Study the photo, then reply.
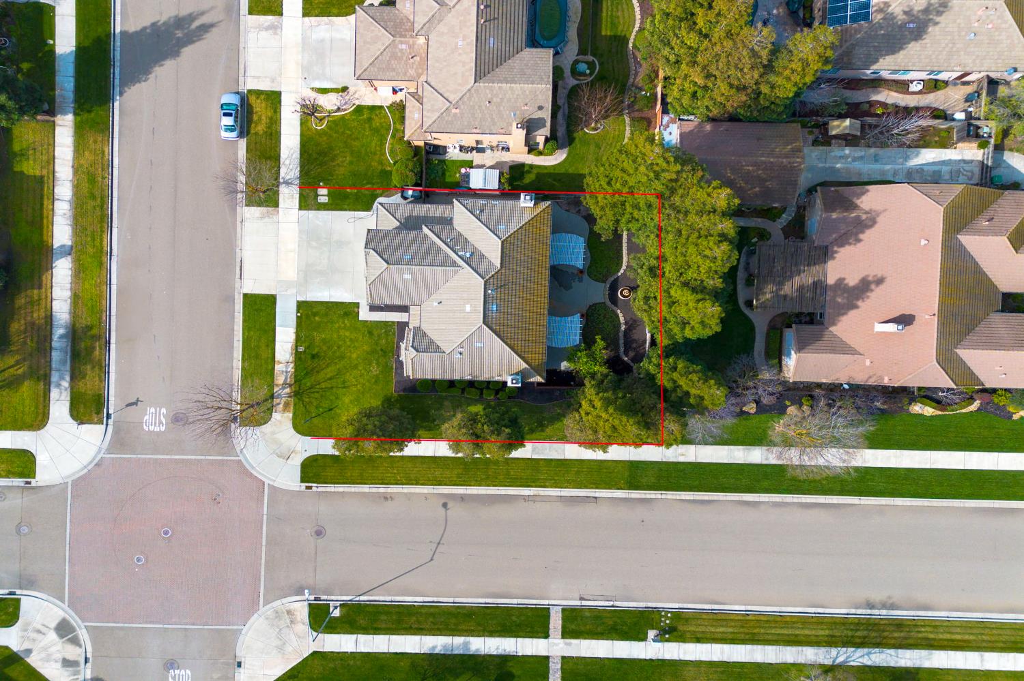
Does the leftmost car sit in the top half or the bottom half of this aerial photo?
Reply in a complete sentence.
It is in the top half that the leftmost car appears.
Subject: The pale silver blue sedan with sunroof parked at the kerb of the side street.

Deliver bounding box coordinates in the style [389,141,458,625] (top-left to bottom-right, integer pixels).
[216,91,241,141]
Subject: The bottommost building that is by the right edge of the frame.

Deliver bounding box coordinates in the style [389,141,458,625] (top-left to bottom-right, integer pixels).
[782,182,1024,390]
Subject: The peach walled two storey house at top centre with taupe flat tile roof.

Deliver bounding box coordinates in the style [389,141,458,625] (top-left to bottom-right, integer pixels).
[354,0,554,159]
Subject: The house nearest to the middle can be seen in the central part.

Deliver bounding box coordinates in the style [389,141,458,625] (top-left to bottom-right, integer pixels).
[364,184,552,386]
